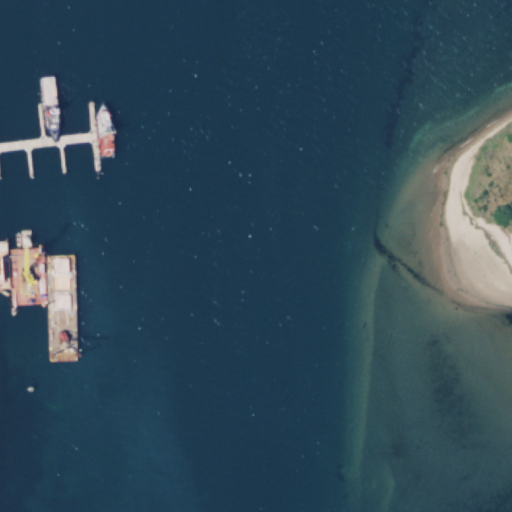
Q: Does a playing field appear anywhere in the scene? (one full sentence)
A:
No, the scene contains no playing field.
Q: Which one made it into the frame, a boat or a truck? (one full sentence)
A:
Looking from above, you can make out a boat.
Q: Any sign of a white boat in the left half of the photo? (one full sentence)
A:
Yes, a white boat is visible in the left half of the photo.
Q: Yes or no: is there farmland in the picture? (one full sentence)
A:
No, no farmland is visible.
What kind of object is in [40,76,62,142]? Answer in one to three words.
boat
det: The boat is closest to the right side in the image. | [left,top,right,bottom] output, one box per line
[94,104,117,164]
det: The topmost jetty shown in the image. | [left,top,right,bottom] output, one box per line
[0,102,100,178]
